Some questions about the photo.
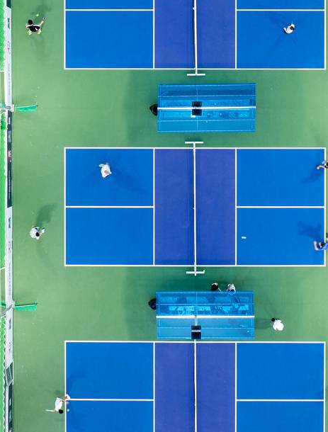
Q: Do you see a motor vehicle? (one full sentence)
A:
No, the scene contains no motor vehicle.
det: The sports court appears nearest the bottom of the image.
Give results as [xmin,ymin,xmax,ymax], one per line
[65,342,326,432]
